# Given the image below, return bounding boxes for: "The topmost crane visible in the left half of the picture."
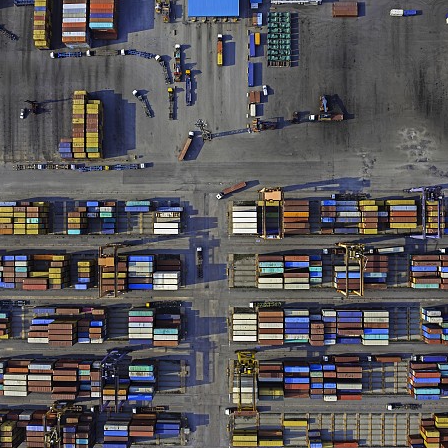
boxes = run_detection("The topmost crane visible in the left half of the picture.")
[99,244,132,298]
